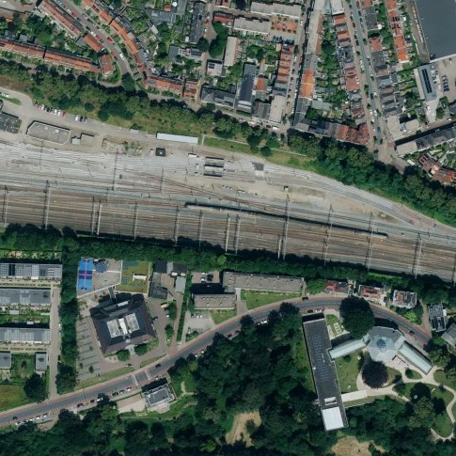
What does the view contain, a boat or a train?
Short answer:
train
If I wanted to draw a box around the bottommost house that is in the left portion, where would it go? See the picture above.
[145,385,176,413]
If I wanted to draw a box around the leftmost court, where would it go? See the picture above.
[75,257,94,294]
